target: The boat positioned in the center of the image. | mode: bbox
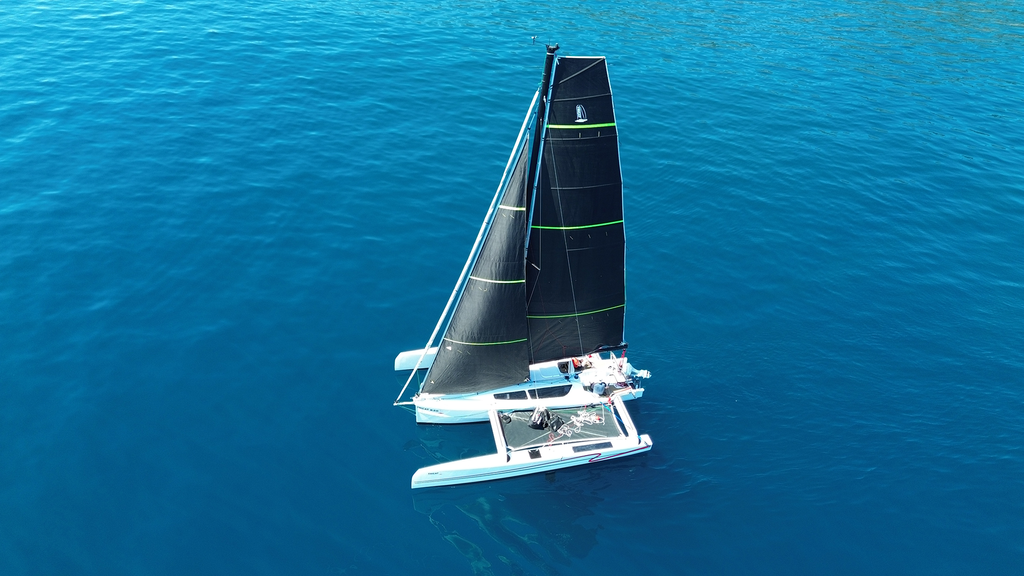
[393,35,652,489]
